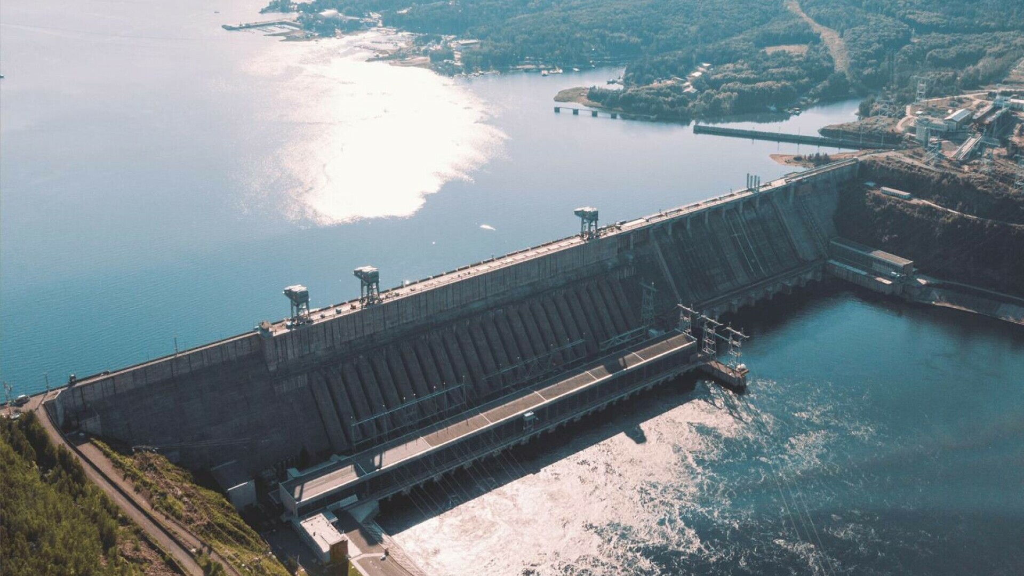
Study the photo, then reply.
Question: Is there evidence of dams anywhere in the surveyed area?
Yes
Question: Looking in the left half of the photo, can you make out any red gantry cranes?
No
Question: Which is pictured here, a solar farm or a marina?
marina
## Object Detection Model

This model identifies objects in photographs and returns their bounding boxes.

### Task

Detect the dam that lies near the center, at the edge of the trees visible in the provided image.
[34,156,863,475]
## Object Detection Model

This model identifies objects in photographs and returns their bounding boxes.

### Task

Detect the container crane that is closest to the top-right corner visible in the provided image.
[574,207,598,241]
